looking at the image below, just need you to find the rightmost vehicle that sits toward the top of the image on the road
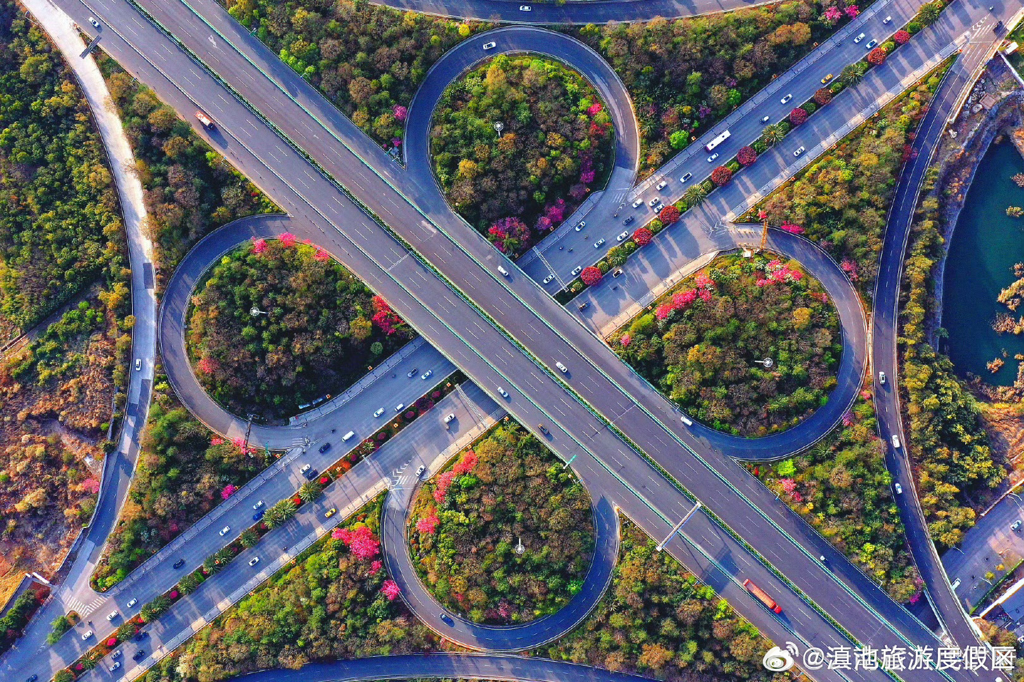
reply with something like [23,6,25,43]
[989,20,1006,35]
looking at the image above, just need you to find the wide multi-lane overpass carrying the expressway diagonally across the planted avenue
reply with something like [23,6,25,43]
[372,206,648,469]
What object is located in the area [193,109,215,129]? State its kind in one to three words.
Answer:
vehicle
